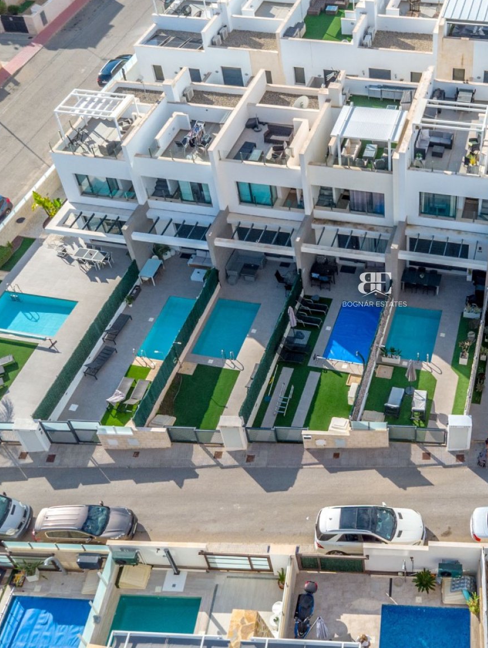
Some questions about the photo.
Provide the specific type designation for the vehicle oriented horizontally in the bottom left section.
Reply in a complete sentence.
It looks like the vehicle oriented horizontally in the bottom left section is an automobile.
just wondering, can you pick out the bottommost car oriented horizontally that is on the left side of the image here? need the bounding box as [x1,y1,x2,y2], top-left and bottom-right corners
[29,498,137,547]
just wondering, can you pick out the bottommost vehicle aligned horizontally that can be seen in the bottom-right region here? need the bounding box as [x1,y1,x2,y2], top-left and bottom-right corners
[314,503,425,556]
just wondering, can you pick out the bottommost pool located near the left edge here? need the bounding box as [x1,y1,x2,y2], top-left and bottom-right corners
[0,595,96,648]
